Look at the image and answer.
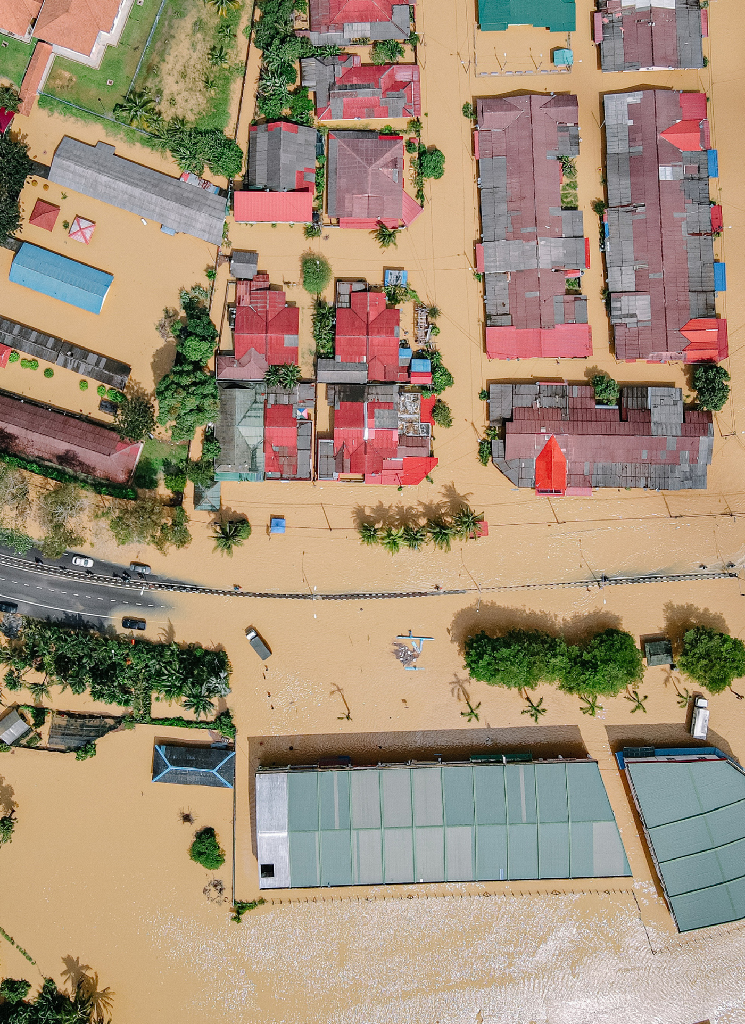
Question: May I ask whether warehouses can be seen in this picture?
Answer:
Yes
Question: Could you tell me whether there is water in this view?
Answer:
Yes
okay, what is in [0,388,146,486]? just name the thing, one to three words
building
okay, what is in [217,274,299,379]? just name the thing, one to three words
house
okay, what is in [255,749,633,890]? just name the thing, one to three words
warehouse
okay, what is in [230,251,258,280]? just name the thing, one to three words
shed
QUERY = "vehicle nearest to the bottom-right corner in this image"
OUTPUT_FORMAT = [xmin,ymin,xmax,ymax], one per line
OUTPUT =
[689,694,710,742]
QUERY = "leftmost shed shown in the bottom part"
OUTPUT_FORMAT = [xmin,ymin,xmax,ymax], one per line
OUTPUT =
[0,707,31,744]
